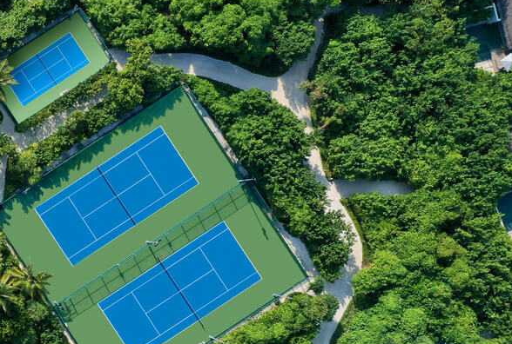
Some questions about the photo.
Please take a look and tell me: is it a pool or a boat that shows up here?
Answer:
pool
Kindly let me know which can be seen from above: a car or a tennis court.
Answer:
tennis court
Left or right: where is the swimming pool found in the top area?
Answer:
right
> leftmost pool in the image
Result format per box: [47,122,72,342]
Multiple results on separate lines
[467,15,505,64]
